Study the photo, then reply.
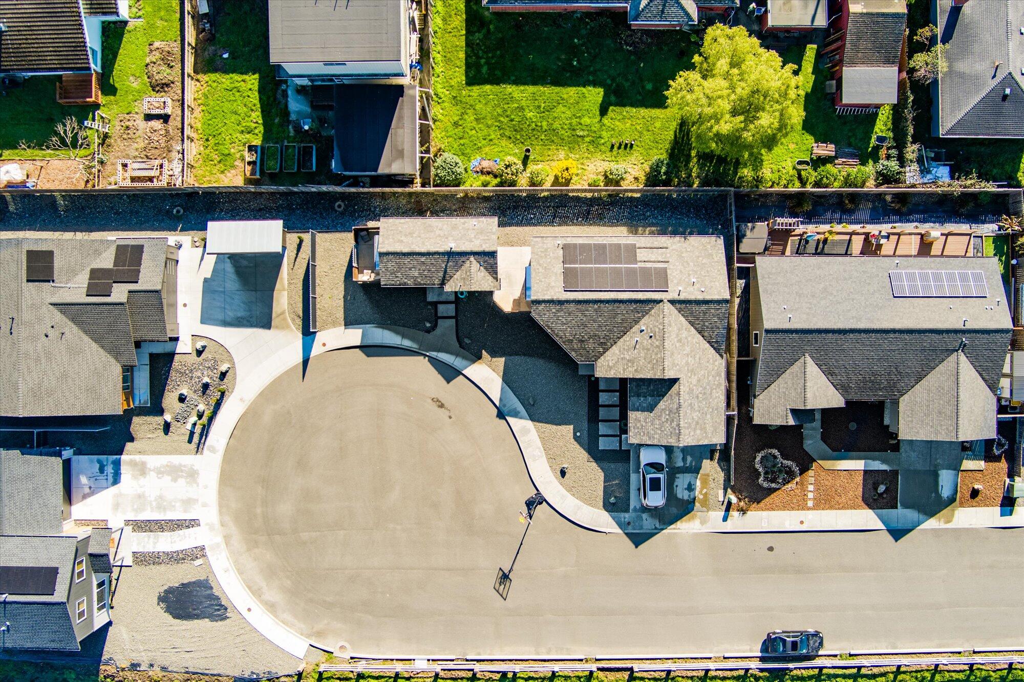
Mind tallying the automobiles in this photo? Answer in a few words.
2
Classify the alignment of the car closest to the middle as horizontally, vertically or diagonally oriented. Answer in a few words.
vertically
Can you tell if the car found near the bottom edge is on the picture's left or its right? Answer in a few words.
right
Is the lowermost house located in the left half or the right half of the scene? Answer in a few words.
left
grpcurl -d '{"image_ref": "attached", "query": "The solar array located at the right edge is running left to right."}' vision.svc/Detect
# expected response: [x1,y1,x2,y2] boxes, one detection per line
[889,271,988,296]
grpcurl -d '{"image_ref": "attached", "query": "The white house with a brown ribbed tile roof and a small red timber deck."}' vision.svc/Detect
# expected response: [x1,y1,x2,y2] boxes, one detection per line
[0,0,130,81]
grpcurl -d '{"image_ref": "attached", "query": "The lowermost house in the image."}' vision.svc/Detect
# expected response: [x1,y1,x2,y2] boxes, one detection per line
[0,525,127,653]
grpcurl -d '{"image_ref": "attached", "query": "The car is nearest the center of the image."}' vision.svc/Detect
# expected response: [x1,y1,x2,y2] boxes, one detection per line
[639,446,669,508]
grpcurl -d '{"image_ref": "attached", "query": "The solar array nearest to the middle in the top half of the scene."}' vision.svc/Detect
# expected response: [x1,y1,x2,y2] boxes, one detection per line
[562,243,669,290]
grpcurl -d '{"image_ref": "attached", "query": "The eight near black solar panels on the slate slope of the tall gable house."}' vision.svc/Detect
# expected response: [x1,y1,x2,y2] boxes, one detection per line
[0,567,59,595]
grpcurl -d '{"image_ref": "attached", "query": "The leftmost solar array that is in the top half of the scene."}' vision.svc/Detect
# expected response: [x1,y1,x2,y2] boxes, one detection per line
[26,250,66,286]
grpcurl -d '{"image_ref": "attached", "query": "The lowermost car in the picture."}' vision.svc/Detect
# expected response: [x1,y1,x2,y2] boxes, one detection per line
[767,628,822,659]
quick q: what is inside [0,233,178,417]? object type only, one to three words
house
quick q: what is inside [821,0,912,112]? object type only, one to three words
building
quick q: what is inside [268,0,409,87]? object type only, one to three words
house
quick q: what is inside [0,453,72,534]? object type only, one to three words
building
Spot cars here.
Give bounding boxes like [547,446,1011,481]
[767,628,822,659]
[639,446,669,508]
